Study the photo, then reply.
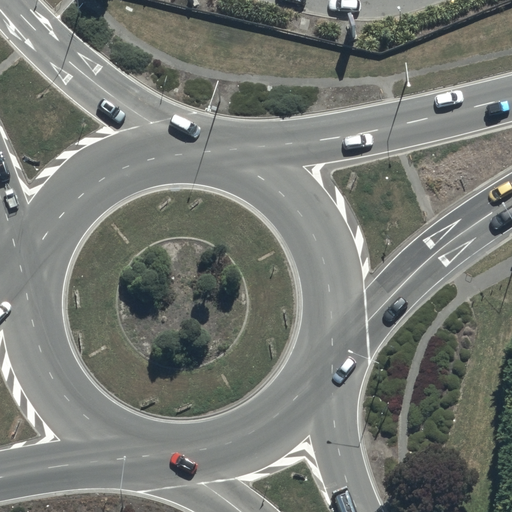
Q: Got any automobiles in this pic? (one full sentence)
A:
Yes, the photo shows an automobile.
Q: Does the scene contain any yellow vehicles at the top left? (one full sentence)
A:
No, no yellow vehicle can be made out at the top left.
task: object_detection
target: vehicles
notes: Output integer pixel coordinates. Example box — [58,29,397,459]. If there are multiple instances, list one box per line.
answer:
[382,297,410,324]
[494,210,512,230]
[276,0,306,8]
[342,135,372,150]
[0,154,8,186]
[486,100,510,116]
[332,356,357,385]
[333,487,354,512]
[169,115,200,136]
[170,454,196,474]
[96,98,124,122]
[330,0,360,11]
[0,300,10,320]
[434,91,462,107]
[490,180,512,202]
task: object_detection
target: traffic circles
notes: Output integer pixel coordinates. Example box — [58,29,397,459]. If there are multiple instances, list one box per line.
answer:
[0,118,366,488]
